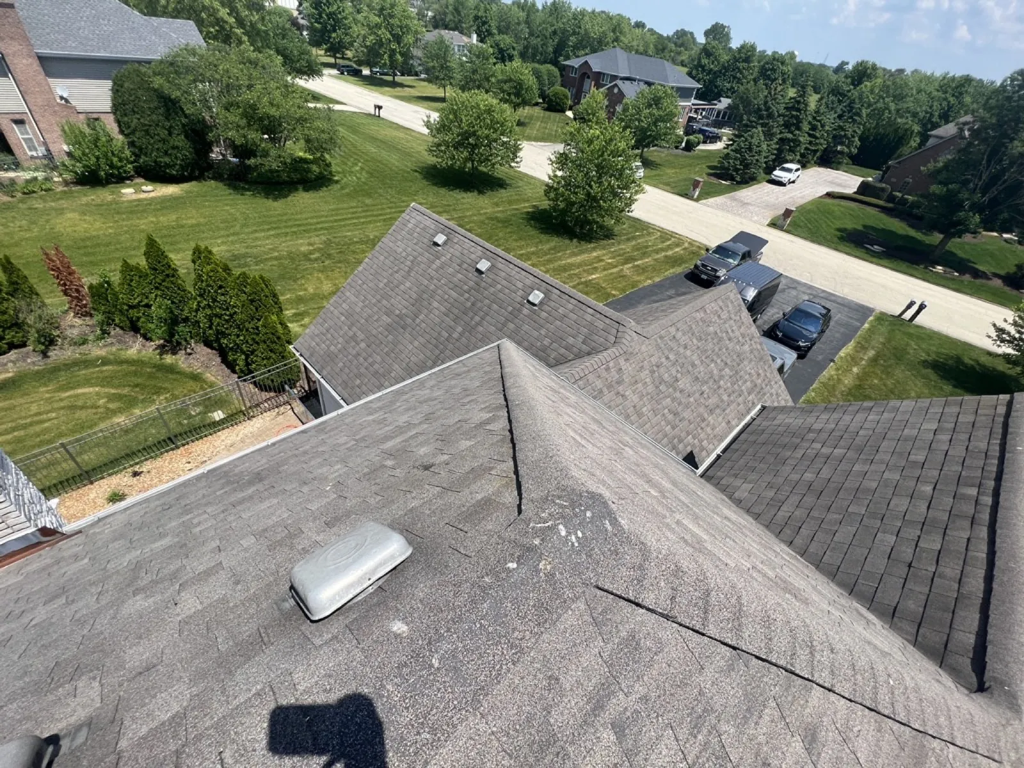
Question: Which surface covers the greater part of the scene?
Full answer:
The bulk of the photo consists of buildings.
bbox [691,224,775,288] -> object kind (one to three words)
truck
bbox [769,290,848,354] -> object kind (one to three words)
car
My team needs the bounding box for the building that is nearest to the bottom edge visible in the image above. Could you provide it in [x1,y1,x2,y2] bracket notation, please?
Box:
[0,204,1024,768]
